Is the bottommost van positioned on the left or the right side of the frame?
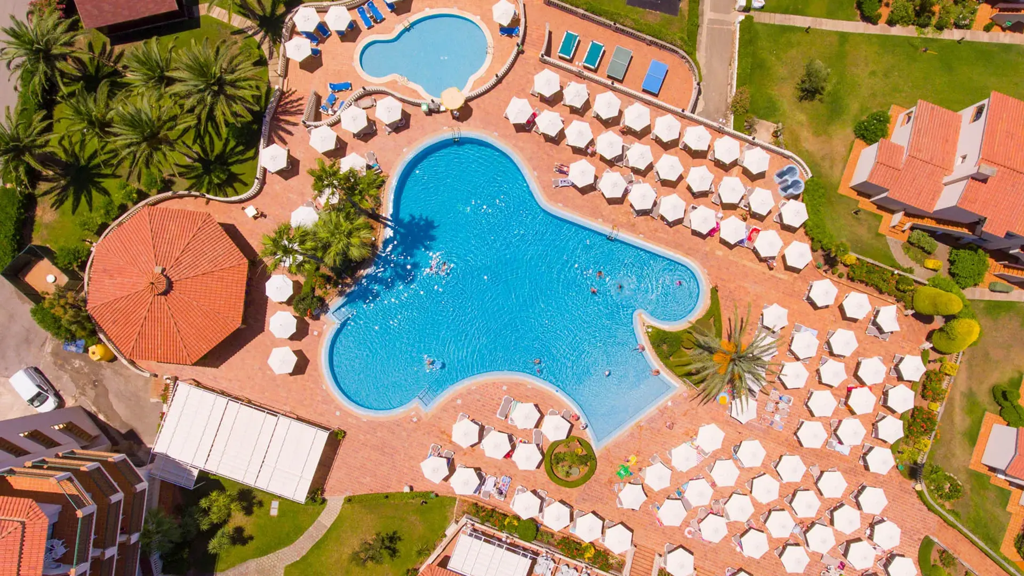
left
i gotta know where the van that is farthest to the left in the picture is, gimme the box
[8,368,58,413]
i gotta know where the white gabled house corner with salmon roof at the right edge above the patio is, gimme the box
[982,425,1024,503]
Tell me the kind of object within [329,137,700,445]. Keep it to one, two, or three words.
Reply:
swimming pool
